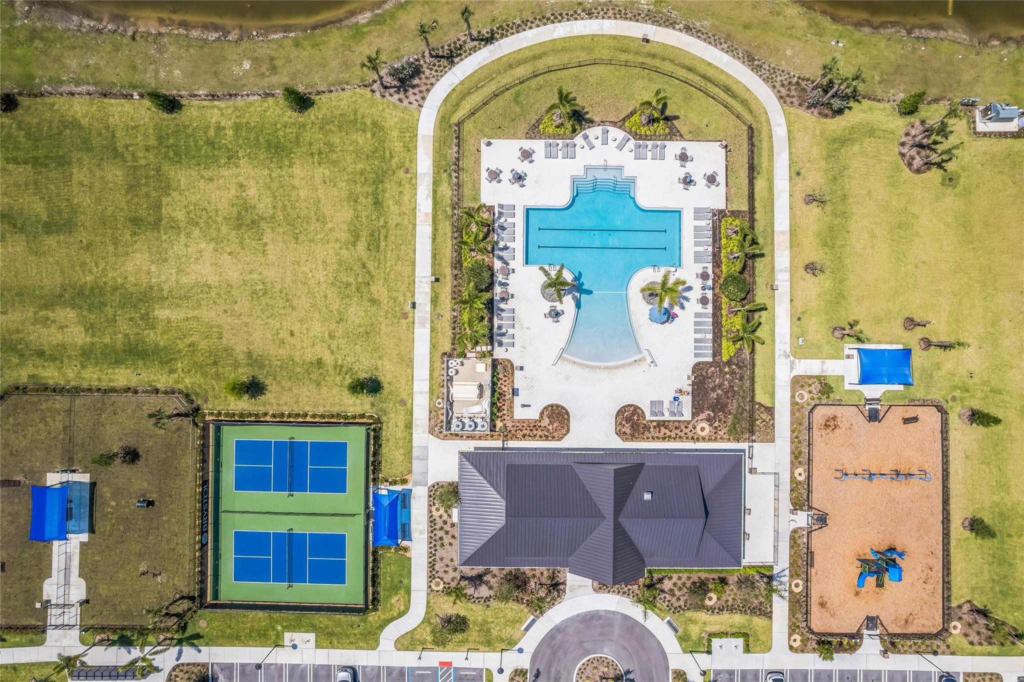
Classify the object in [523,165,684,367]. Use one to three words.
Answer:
swimming pool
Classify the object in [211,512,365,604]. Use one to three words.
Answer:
sports court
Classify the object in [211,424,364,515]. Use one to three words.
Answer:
sports court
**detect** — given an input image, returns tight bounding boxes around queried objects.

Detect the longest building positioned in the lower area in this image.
[457,450,746,591]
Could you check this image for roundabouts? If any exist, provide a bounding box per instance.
[530,610,669,682]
